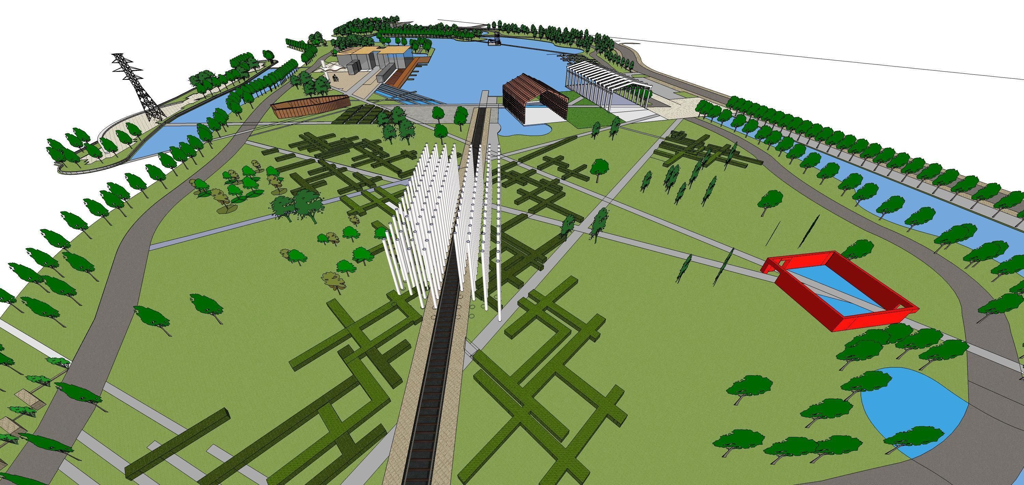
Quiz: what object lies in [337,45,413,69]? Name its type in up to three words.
building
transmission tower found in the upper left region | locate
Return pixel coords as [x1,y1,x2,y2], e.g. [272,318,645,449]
[110,53,168,121]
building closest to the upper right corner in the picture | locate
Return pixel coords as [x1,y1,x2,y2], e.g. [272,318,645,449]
[565,60,654,111]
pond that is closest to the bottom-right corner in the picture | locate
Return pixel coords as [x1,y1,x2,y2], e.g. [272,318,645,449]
[861,366,970,459]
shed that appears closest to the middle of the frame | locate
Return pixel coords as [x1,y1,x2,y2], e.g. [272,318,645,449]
[502,75,569,125]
